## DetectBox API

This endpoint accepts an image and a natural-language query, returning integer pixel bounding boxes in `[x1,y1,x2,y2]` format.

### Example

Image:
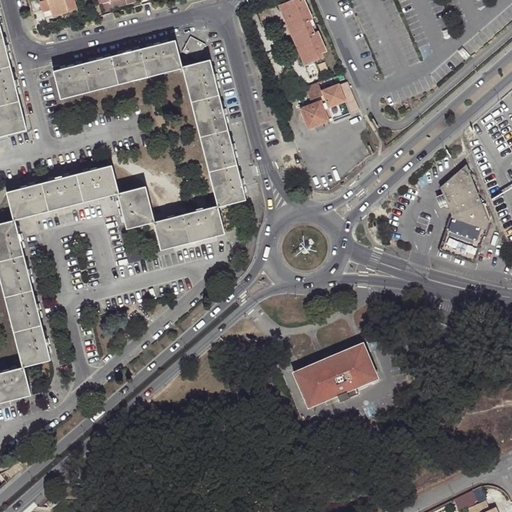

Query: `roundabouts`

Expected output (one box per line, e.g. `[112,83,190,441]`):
[258,204,355,292]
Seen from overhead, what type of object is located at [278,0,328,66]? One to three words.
house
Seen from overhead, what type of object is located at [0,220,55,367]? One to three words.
building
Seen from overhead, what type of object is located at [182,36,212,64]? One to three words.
building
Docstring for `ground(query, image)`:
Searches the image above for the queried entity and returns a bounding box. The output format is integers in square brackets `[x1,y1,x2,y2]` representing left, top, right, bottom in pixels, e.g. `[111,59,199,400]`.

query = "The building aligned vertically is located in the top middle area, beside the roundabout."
[182,60,248,207]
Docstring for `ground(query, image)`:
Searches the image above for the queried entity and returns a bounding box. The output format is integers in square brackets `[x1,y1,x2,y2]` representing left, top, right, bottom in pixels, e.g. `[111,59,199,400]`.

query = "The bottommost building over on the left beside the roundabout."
[155,207,227,250]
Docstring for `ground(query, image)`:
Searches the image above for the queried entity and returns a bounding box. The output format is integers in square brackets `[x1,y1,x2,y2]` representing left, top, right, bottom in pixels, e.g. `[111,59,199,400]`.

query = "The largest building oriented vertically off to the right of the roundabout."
[441,160,490,256]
